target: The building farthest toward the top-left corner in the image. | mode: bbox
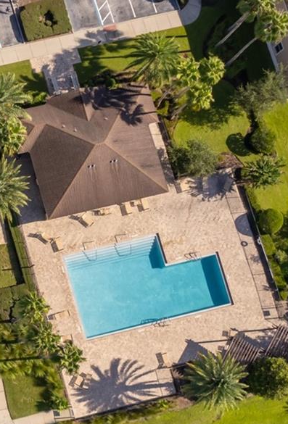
[17,83,170,220]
